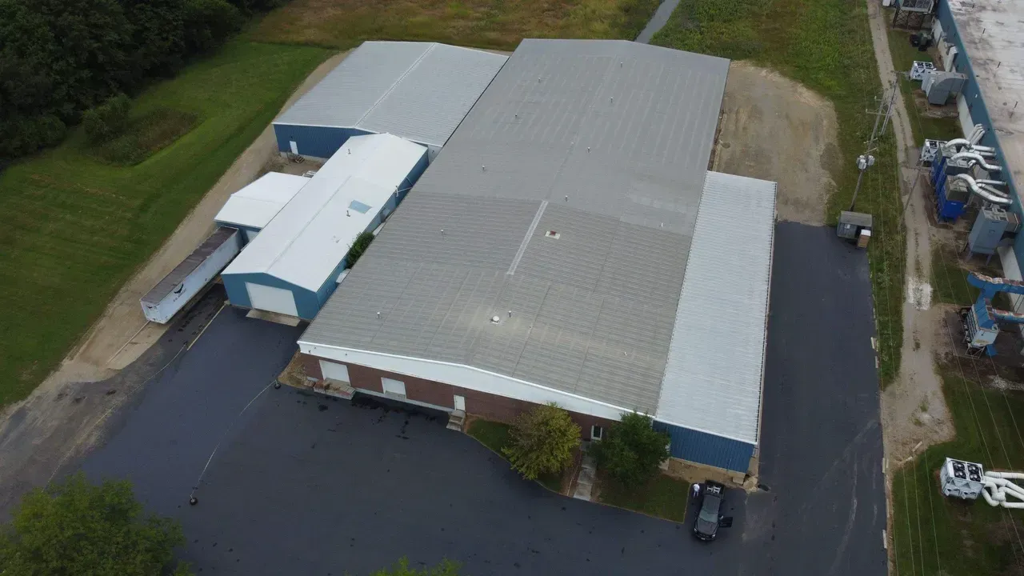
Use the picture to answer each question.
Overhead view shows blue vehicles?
No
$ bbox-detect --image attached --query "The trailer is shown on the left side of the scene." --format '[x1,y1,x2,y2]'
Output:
[140,225,243,326]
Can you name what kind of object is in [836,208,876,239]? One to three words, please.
shed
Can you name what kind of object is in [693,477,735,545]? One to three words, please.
truck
